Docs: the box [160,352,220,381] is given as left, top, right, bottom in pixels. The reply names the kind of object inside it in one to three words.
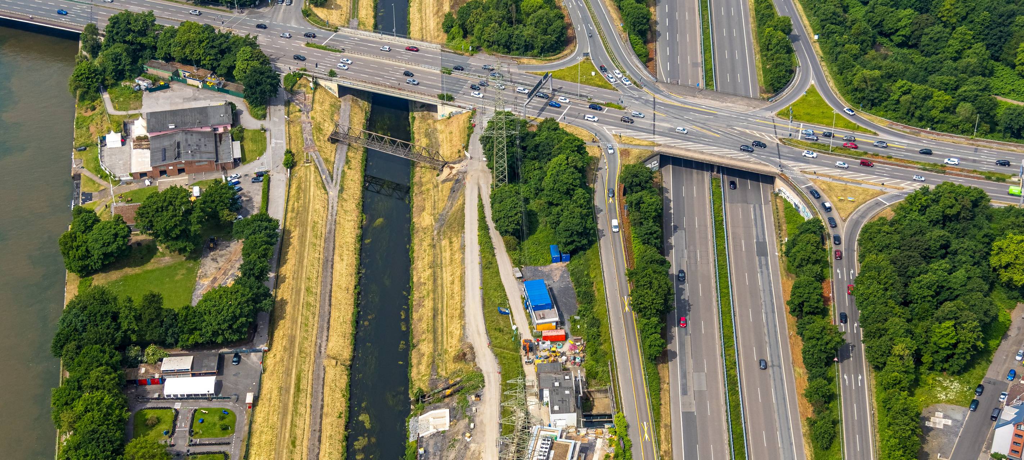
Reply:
shed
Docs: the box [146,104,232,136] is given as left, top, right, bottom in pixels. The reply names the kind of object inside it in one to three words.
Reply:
building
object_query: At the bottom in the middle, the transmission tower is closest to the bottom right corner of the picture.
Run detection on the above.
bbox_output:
[477,376,564,460]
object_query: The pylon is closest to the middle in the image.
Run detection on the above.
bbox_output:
[469,56,531,168]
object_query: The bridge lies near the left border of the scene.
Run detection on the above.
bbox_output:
[0,8,88,37]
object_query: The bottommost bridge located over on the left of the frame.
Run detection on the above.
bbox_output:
[328,126,448,177]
